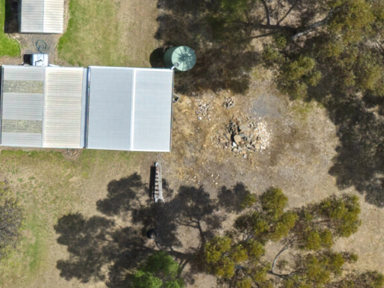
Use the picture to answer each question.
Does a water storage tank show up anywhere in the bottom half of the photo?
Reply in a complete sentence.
No, no water storage tank can be made out in the bottom half of the photo.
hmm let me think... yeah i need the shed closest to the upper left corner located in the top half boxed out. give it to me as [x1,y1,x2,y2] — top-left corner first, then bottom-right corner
[16,0,65,34]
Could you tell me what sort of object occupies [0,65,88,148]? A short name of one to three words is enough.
shed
